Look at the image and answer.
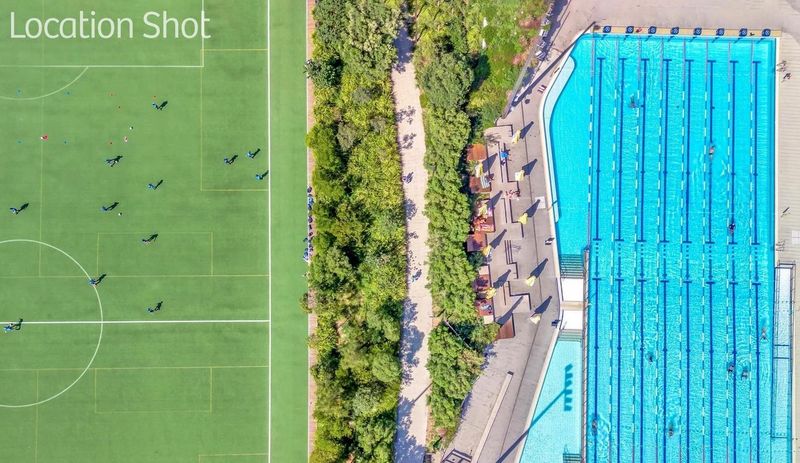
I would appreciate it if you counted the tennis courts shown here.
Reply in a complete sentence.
Not a single tennis court can be seen.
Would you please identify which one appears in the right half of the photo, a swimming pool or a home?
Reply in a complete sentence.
Visible in the right half of the photo is a swimming pool.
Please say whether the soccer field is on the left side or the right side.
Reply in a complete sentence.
It is on the left.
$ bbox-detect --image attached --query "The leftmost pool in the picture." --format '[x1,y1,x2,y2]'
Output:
[516,311,584,463]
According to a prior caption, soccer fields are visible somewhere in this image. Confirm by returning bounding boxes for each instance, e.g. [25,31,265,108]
[0,0,308,463]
